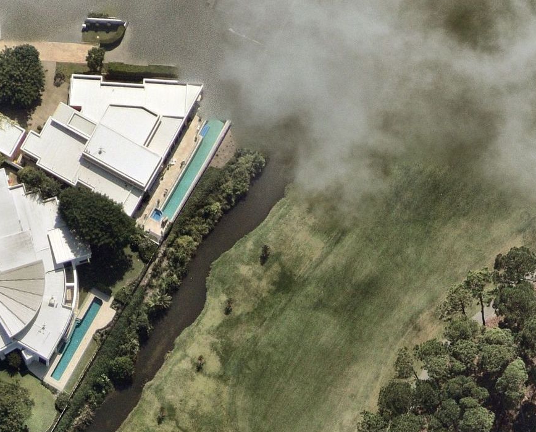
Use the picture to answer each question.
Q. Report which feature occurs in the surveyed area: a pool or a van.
pool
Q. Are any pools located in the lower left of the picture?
Yes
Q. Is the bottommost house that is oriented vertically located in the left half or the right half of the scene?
left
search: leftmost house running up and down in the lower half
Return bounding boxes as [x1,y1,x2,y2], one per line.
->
[0,168,94,366]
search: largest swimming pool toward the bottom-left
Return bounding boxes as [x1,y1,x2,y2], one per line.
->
[50,296,103,382]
